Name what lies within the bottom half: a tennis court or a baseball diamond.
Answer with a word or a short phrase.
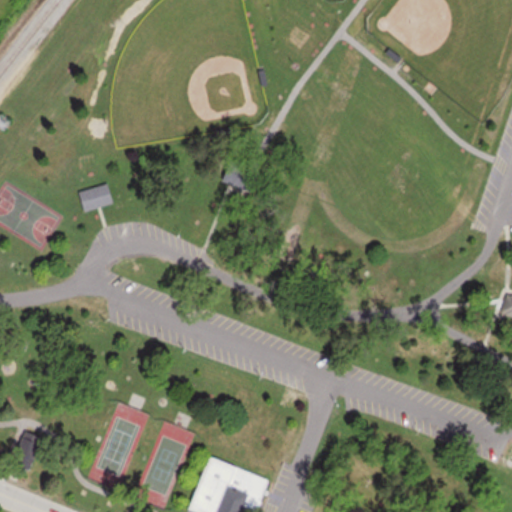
tennis court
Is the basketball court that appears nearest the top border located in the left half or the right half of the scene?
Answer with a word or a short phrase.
left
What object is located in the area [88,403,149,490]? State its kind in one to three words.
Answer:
tennis court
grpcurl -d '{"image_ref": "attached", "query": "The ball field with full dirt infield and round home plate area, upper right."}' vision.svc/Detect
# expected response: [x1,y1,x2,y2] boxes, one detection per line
[366,0,512,120]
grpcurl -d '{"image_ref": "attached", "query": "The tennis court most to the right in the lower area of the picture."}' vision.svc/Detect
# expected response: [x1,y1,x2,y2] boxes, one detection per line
[134,422,195,508]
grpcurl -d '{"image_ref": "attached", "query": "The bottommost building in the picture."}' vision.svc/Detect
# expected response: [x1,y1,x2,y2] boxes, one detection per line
[189,457,269,512]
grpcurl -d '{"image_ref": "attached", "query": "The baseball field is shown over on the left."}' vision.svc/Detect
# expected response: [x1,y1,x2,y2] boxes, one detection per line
[111,0,268,148]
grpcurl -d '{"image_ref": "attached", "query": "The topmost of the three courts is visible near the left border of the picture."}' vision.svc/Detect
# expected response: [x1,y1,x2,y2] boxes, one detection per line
[0,180,65,252]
